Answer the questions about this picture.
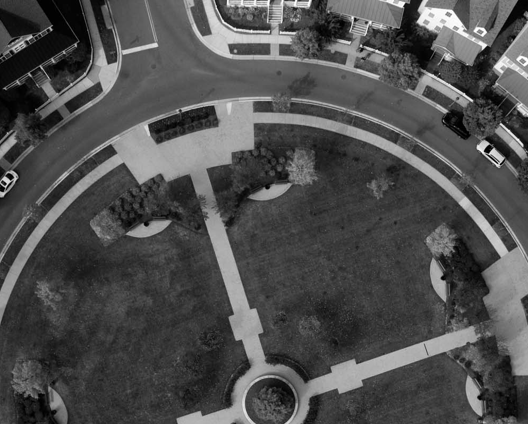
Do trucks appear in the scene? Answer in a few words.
No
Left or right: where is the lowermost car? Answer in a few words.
left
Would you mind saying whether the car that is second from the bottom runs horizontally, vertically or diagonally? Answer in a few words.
diagonally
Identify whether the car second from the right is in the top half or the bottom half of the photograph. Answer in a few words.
top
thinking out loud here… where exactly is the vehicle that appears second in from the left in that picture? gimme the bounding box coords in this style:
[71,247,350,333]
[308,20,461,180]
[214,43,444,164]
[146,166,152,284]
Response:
[439,111,475,141]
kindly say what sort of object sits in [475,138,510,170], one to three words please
car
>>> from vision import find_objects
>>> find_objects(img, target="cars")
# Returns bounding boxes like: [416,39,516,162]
[475,138,510,170]
[439,111,475,141]
[0,165,22,202]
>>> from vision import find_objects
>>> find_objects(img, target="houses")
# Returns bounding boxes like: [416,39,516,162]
[226,0,310,23]
[0,0,81,92]
[326,0,412,40]
[416,0,522,70]
[491,21,528,117]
